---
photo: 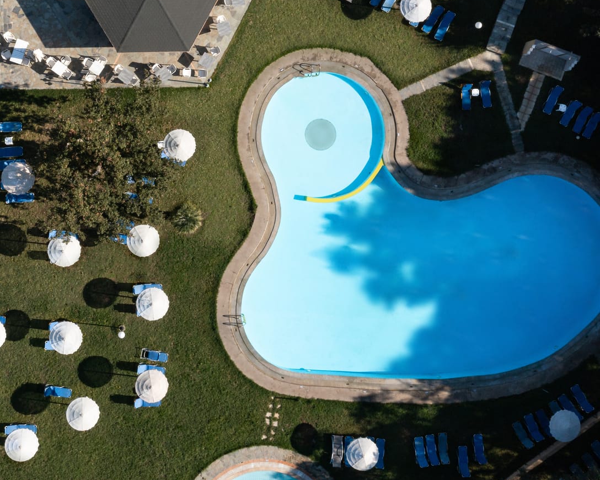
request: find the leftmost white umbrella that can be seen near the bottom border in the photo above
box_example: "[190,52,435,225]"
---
[5,424,40,459]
